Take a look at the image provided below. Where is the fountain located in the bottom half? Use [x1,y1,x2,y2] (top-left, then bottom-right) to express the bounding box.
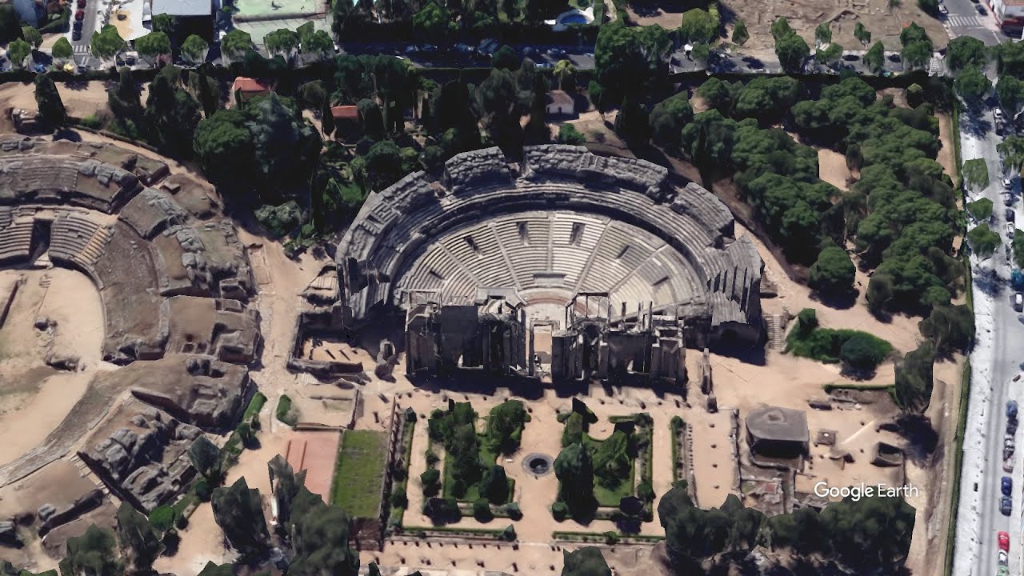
[521,451,554,476]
